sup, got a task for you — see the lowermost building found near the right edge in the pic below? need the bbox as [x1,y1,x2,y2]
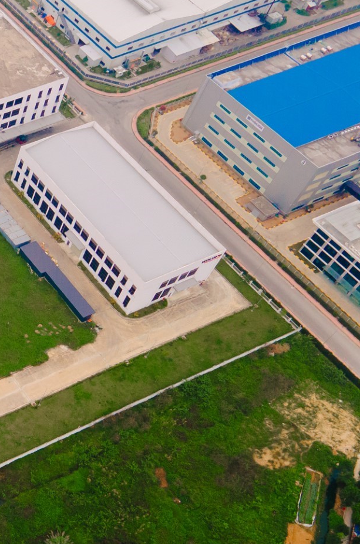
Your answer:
[296,201,360,309]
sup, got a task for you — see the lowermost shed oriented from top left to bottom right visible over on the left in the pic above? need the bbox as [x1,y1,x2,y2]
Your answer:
[19,242,96,322]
